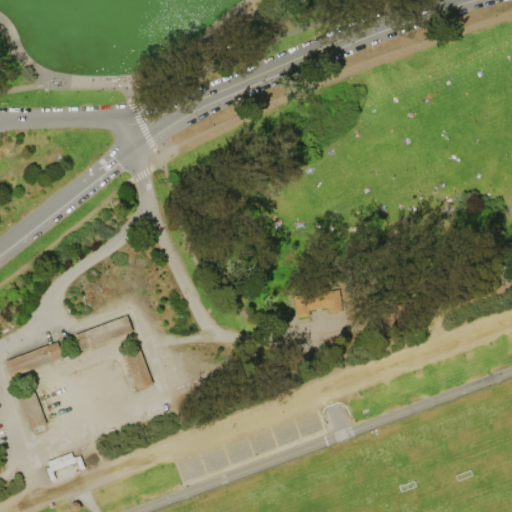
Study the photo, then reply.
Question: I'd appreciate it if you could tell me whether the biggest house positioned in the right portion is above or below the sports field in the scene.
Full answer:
The position of the biggest house positioned in the right portion is above the sports field.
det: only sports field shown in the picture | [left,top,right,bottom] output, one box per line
[155,378,512,512]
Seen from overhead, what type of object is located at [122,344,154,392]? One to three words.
building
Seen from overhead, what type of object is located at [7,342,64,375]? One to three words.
building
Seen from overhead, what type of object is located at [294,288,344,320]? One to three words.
house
